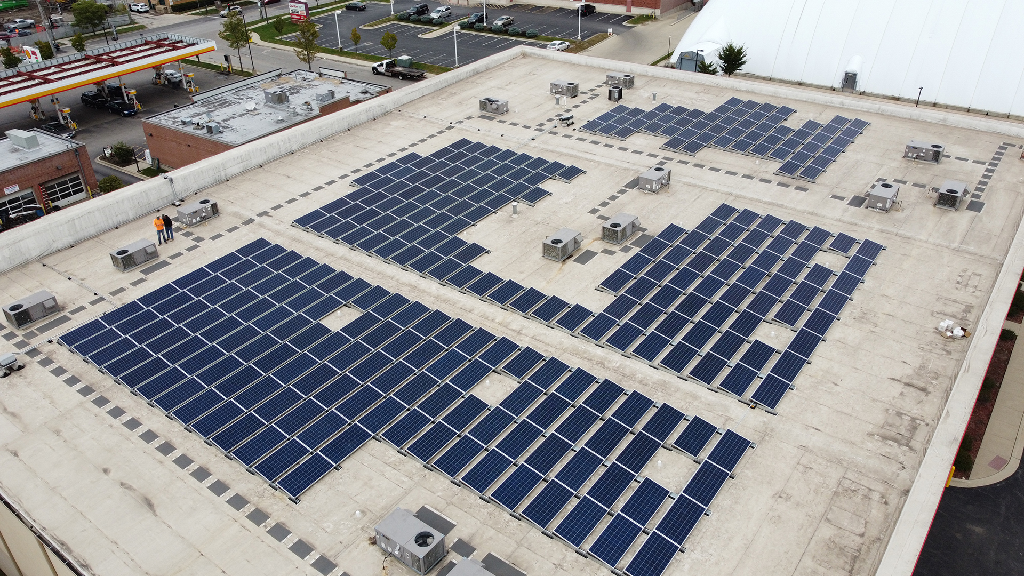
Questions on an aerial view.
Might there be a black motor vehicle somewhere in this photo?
Yes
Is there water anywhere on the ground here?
No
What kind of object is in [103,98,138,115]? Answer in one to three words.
car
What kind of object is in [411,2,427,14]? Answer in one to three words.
vehicle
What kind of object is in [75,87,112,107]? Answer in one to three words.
car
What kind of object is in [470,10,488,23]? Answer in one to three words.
vehicle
